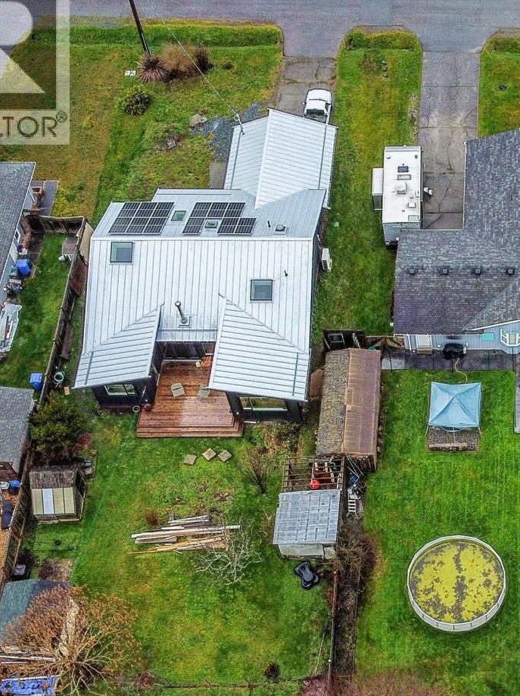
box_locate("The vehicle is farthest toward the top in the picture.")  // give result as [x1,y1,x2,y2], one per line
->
[299,80,332,118]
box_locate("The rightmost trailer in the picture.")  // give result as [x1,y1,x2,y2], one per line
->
[371,152,425,250]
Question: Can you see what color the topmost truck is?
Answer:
white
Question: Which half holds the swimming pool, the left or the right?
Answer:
right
